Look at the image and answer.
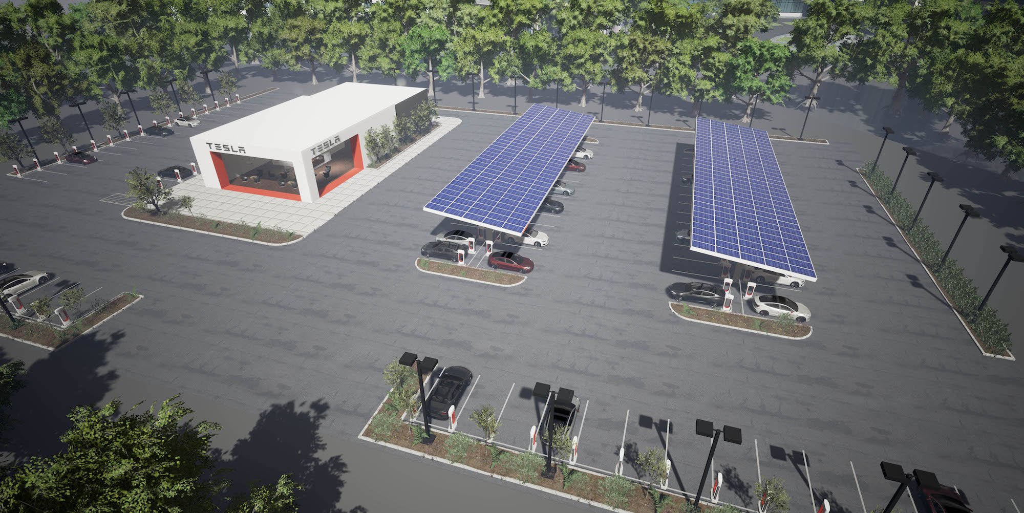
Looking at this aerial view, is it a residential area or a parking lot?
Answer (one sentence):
It's a parking lot.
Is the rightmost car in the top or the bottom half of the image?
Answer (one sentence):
It is in the bottom half that the rightmost car appears.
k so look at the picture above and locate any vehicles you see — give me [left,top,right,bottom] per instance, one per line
[433,228,479,247]
[174,116,202,127]
[0,271,47,301]
[160,165,195,180]
[64,152,99,166]
[0,261,13,273]
[485,250,535,273]
[539,196,566,214]
[683,175,693,186]
[565,158,587,172]
[550,180,576,196]
[667,280,725,306]
[916,479,971,513]
[750,293,812,320]
[149,125,178,137]
[504,227,550,247]
[425,365,470,418]
[421,240,468,261]
[750,269,805,288]
[573,146,595,159]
